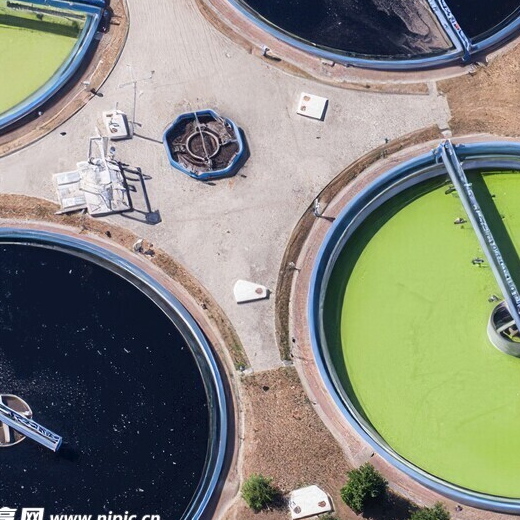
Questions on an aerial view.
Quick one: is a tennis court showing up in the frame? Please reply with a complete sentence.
No, this view has no tennis court in it.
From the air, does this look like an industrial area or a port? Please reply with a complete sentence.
This looks like an industrial area.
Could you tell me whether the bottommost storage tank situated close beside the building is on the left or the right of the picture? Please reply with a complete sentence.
The bottommost storage tank situated close beside the building sits on the left side.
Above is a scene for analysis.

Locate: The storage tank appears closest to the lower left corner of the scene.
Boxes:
[0,228,226,520]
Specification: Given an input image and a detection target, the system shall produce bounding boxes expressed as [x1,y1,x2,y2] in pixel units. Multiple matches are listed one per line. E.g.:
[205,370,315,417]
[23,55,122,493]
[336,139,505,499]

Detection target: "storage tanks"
[307,141,520,516]
[0,1,103,135]
[0,228,226,520]
[221,0,520,72]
